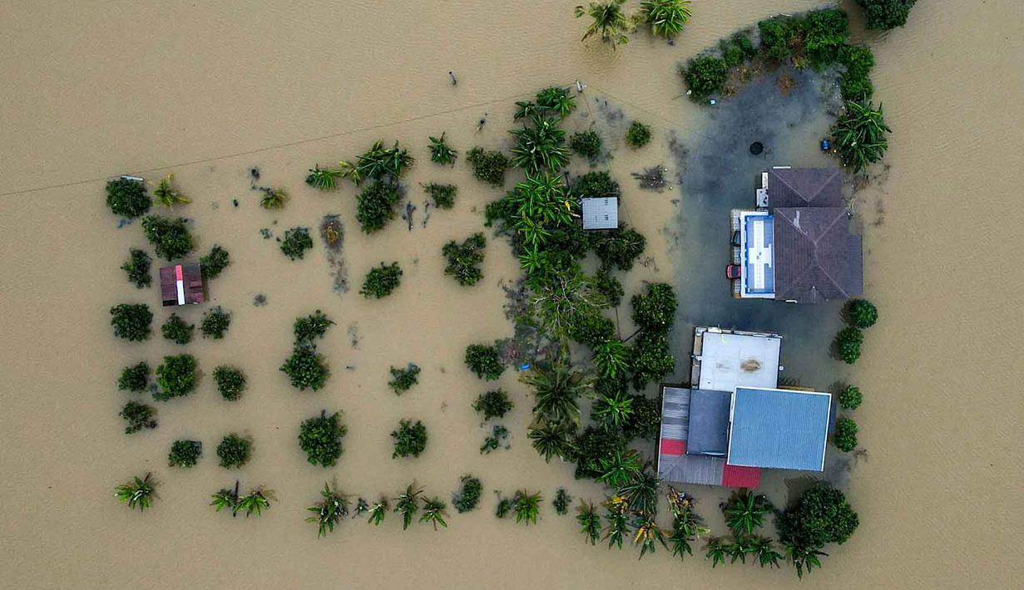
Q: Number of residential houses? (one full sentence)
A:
Altogether the scene contains 2 residential houses.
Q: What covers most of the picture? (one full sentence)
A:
The bulk of the photo consists of water.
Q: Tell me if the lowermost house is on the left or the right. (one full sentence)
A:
It is on the right.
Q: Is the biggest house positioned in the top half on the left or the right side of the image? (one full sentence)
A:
The biggest house positioned in the top half appears in the right half of the scene.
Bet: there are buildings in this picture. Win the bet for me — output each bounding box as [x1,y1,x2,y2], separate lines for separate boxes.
[160,263,205,306]
[731,166,864,304]
[653,325,837,489]
[582,196,618,230]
